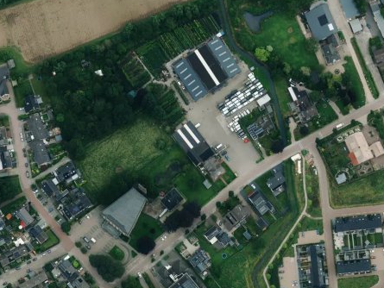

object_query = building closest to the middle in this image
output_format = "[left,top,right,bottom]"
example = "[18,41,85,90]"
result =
[174,121,215,165]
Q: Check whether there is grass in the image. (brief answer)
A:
Yes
